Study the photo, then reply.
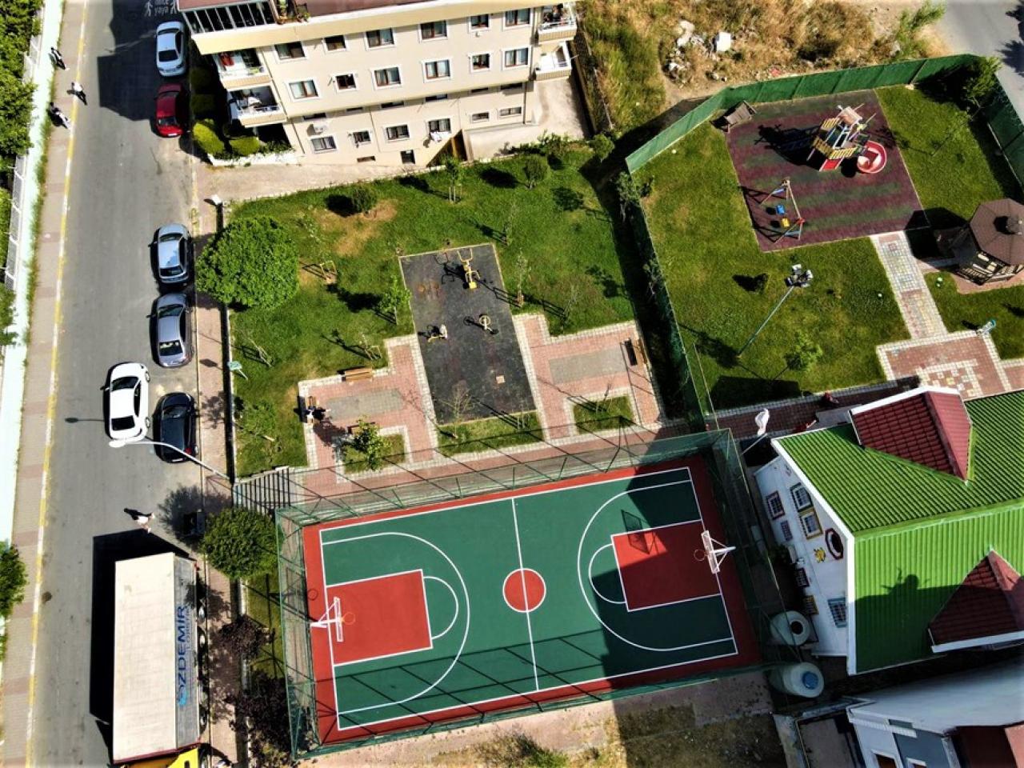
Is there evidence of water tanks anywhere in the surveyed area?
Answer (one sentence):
Yes, a water tank can be made out from above.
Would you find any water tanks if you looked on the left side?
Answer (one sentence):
No, no water tank can be made out on the left side.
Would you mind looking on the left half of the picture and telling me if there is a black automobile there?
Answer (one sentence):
Yes, a black automobile shows up on the left half of the picture.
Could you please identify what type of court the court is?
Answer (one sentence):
It turns out the court is a basketball court.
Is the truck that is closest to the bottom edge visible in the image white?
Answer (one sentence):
Yes, the truck that is closest to the bottom edge is white.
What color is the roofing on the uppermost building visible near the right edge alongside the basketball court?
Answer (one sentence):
The color of the roof on the uppermost building visible near the right edge alongside the basketball court is green.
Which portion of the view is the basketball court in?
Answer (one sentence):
The basketball court is in the bottom part of the image.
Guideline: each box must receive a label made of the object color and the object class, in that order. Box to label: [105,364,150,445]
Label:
white car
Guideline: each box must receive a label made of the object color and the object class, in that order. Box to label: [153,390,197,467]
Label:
black car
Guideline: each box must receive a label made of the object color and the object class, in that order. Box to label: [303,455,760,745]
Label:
green basketball court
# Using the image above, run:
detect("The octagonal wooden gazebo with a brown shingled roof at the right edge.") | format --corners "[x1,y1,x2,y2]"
[946,202,1024,289]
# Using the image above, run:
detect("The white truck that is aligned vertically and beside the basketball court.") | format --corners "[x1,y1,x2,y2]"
[113,552,208,768]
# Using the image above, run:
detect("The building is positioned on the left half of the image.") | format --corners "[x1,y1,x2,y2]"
[173,0,583,166]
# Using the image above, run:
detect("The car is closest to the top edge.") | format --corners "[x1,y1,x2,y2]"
[153,23,189,81]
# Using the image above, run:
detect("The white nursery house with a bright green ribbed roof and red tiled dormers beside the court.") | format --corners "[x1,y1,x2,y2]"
[754,388,1024,676]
